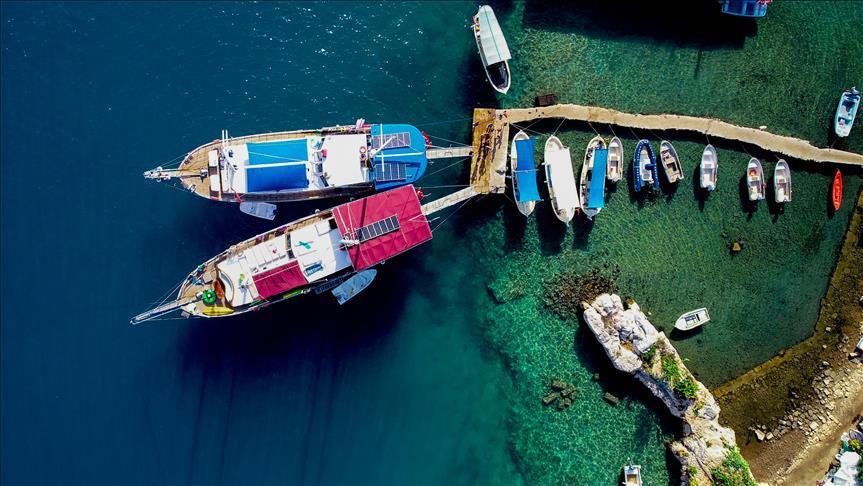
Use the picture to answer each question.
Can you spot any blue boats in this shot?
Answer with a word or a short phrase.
Yes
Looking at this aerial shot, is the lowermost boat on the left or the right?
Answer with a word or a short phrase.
right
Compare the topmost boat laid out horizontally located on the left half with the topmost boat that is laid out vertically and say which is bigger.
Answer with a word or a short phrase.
the topmost boat laid out horizontally located on the left half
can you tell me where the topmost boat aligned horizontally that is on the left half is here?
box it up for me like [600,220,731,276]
[145,118,474,200]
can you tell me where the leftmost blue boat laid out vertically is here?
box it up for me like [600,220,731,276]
[507,118,549,220]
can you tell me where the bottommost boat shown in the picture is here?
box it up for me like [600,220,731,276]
[622,460,643,486]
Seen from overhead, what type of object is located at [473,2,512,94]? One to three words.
boat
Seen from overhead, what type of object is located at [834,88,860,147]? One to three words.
boat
